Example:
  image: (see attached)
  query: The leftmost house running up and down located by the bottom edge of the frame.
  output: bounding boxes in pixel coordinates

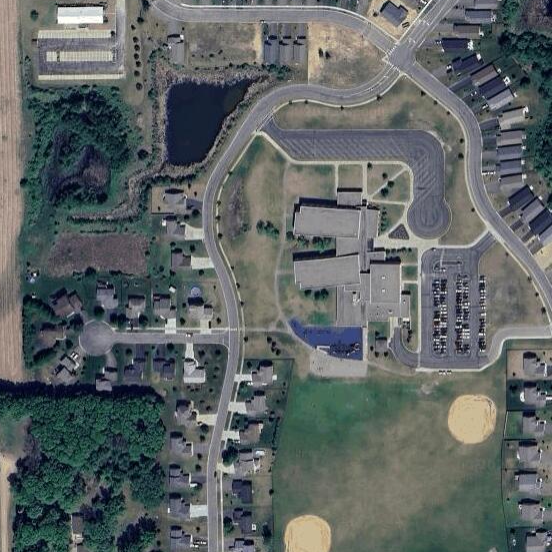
[70,514,83,542]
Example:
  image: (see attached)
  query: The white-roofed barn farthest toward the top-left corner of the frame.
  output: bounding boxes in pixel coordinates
[58,7,104,24]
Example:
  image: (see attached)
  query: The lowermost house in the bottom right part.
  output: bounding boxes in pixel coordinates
[528,532,548,552]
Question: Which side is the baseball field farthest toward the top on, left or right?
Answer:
right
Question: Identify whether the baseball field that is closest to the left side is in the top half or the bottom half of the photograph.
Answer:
bottom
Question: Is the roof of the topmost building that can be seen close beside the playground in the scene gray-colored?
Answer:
Yes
